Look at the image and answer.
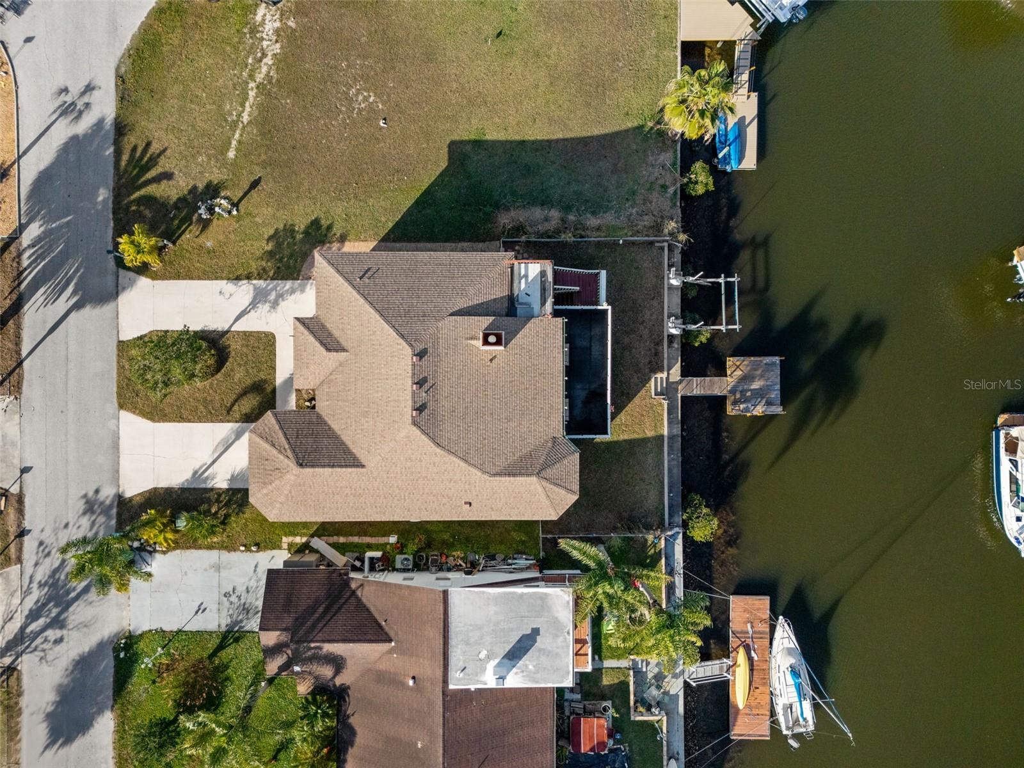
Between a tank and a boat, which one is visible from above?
boat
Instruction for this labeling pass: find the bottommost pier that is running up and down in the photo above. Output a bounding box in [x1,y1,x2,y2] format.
[727,592,770,740]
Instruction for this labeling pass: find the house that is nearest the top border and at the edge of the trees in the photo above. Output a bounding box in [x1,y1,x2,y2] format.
[247,249,614,522]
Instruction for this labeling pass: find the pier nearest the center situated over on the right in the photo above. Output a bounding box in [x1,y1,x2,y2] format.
[683,356,786,416]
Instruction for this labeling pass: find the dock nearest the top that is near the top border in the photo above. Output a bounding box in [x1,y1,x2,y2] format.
[683,0,760,44]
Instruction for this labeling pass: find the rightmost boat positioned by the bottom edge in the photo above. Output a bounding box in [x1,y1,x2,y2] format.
[765,614,872,756]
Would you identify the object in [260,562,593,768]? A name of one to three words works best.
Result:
house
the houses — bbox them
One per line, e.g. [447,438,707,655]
[247,249,614,522]
[260,562,593,768]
